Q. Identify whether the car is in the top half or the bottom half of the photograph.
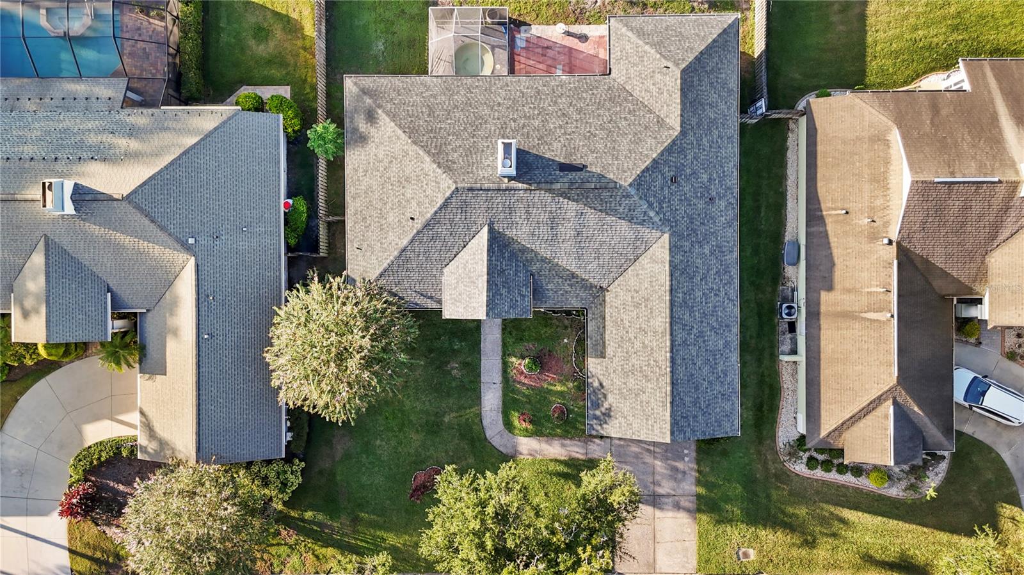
bottom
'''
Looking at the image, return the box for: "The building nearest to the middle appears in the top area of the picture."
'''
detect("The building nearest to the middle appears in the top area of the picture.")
[342,13,742,445]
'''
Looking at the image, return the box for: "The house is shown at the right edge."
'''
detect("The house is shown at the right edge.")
[787,56,1024,465]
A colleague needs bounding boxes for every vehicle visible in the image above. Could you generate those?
[956,374,1024,429]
